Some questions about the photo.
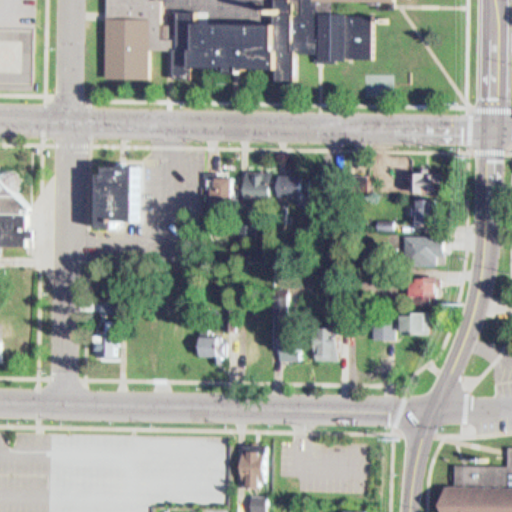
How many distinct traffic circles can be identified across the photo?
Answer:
0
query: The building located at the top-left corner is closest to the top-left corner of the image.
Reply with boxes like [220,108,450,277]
[0,28,36,92]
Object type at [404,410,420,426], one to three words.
vehicle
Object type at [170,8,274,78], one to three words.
building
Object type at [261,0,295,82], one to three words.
building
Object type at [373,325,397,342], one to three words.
house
